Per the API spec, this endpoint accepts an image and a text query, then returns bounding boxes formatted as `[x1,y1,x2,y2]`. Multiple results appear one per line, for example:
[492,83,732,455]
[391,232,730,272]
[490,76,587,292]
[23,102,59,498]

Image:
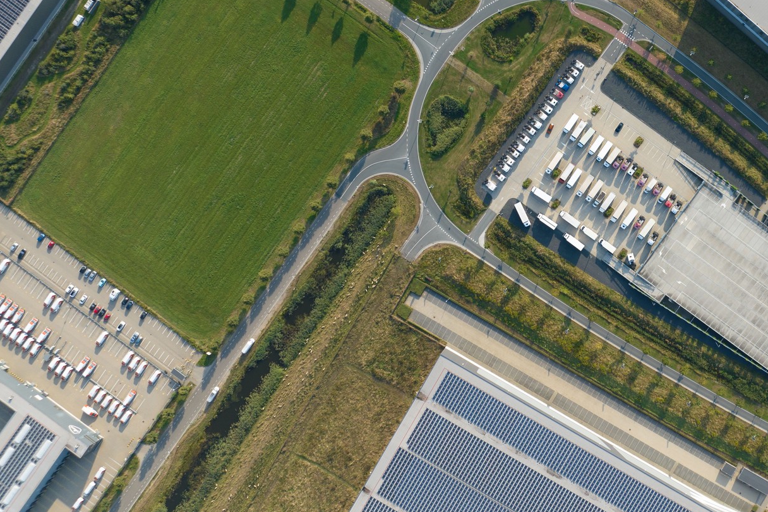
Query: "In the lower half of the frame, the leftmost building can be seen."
[0,348,114,512]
